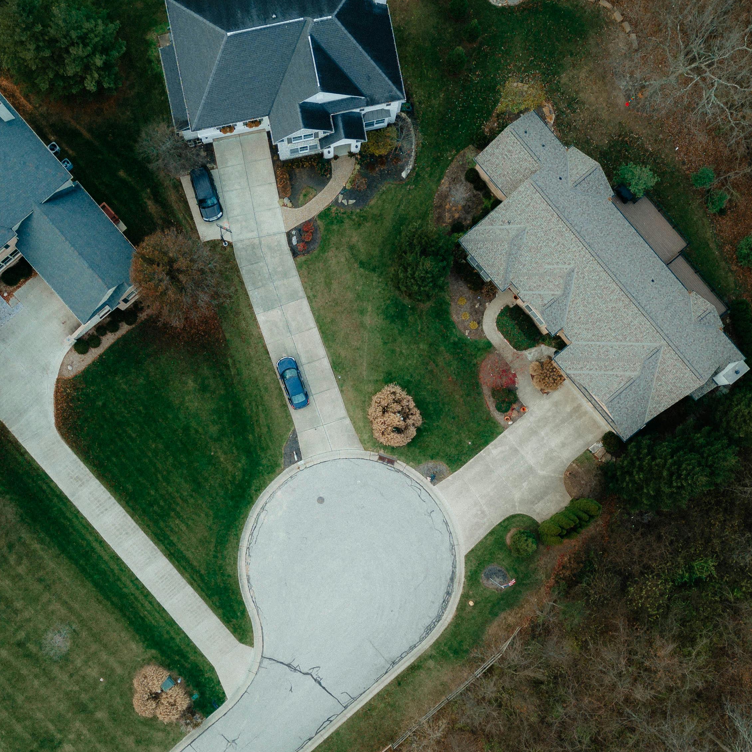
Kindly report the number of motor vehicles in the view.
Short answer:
two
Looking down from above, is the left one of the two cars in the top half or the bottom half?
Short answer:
top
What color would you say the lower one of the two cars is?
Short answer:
blue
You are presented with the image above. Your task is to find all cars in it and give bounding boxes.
[278,356,310,411]
[188,165,222,223]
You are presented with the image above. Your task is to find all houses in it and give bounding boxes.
[0,91,152,346]
[159,0,406,158]
[459,110,750,444]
